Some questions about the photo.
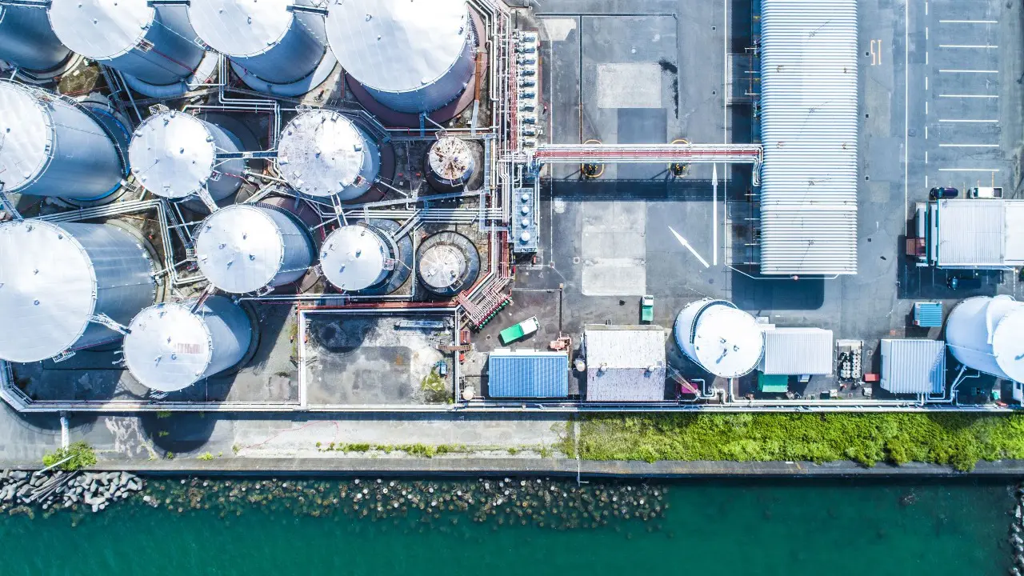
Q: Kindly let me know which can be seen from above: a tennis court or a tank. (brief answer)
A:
tank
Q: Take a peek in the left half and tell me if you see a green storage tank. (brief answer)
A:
No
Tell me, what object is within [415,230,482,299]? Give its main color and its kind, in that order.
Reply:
white storage tank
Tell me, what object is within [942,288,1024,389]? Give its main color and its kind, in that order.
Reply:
white storage tank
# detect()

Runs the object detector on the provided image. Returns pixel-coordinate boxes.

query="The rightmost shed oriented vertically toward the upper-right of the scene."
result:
[746,0,857,275]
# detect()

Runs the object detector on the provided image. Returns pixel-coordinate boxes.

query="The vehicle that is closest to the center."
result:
[497,315,540,346]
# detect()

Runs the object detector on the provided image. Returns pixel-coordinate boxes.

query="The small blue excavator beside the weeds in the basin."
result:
[431,359,452,379]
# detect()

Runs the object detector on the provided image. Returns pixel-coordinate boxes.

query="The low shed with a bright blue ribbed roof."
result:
[487,349,568,398]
